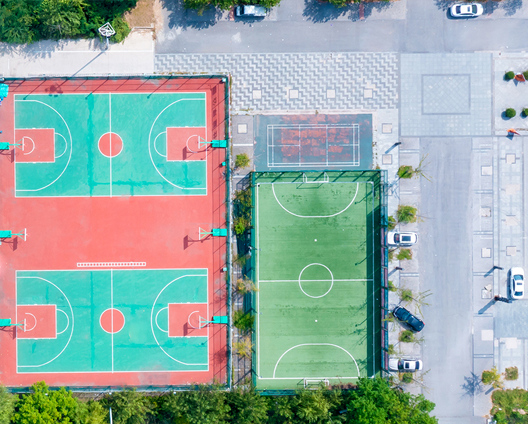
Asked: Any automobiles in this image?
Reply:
Yes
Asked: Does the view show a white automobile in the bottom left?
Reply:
No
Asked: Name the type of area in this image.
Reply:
sports ground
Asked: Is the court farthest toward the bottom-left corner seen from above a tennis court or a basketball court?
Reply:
basketball court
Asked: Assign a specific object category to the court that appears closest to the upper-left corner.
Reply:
basketball court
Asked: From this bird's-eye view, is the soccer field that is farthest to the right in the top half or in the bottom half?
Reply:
bottom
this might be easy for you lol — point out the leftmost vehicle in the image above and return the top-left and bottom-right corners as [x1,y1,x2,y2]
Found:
[235,4,268,18]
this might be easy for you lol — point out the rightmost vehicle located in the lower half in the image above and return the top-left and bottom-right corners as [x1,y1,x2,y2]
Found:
[509,267,527,300]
